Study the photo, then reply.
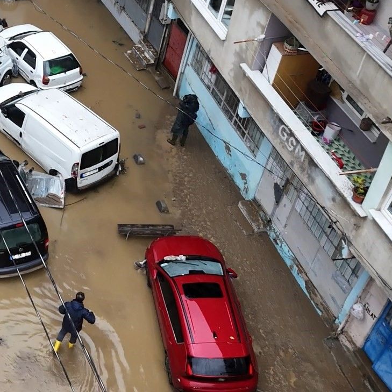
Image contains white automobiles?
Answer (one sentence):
Yes, a white automobile is visible in the scene.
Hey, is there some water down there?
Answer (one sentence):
Yes, water shows up in the scene.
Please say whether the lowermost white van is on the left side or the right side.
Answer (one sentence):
The lowermost white van sits on the left side.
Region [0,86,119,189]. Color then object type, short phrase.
white van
